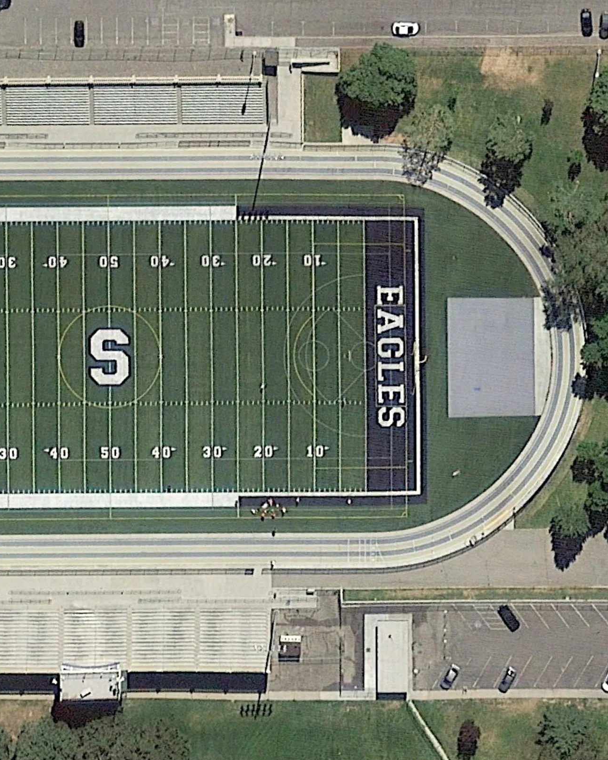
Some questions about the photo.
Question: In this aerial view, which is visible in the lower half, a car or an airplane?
car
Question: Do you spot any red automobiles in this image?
No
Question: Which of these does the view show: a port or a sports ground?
sports ground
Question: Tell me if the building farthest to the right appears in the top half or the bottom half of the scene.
bottom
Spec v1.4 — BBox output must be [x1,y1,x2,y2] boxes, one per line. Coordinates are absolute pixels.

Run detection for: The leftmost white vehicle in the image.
[392,23,419,38]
